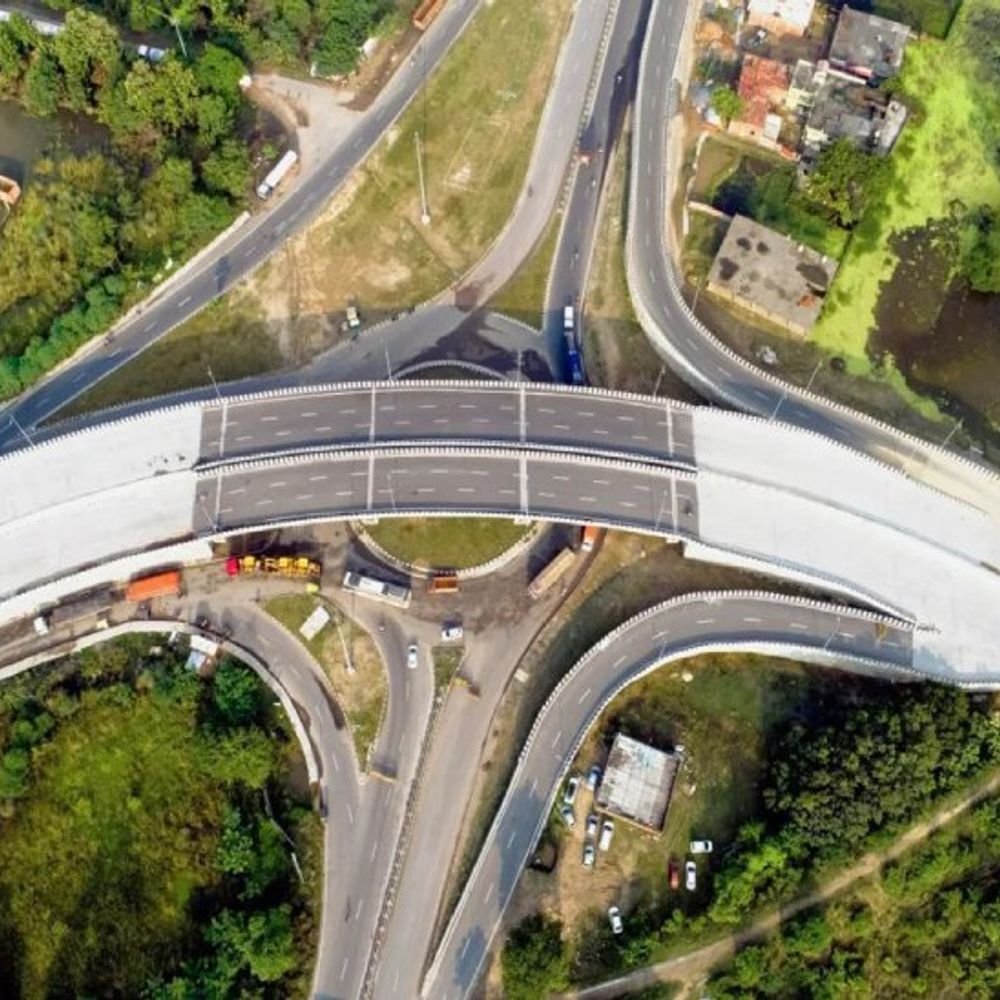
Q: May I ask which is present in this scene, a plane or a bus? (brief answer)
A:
bus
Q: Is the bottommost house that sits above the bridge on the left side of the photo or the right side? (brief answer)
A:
right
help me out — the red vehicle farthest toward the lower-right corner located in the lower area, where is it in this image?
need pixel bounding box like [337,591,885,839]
[667,859,681,889]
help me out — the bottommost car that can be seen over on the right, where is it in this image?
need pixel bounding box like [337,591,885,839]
[606,906,622,936]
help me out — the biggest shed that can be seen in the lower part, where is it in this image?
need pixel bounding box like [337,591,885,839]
[597,733,680,833]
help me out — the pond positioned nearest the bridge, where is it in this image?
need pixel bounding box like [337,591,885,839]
[865,210,1000,476]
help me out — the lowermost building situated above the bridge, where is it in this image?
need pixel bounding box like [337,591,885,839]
[708,213,838,337]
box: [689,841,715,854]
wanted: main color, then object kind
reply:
white vehicle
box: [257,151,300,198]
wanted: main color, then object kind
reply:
white truck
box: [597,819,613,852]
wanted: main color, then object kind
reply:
white car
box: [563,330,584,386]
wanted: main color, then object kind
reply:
blue vehicle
